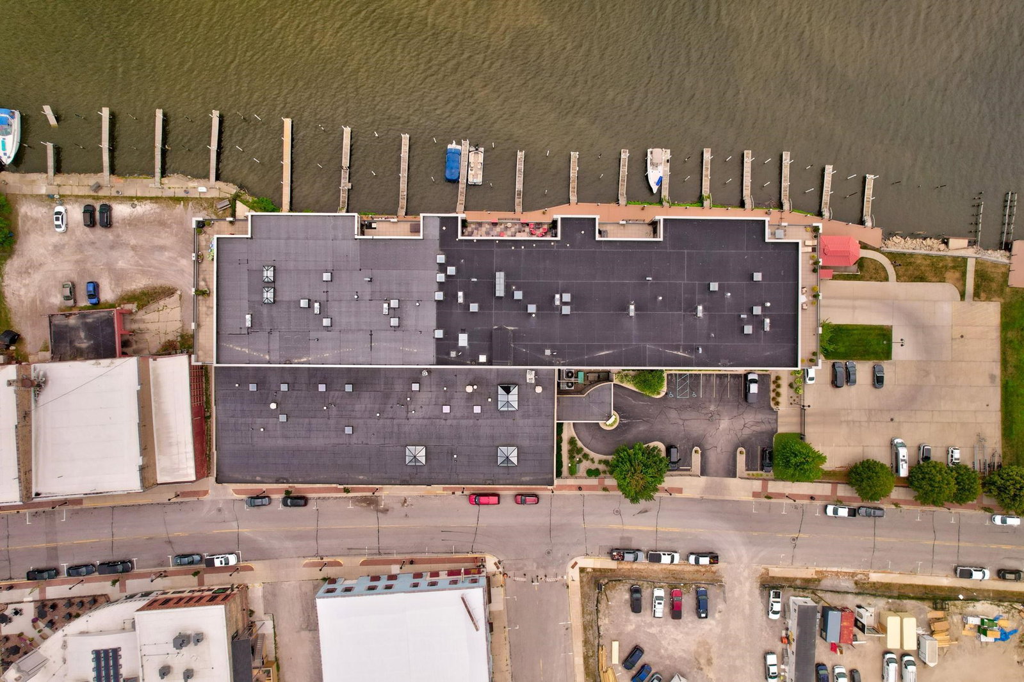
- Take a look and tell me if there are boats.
Yes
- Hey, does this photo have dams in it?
No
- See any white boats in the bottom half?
No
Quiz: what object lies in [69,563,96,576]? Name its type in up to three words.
vehicle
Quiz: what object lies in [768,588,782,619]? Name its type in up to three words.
vehicle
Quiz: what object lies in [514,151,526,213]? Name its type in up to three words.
pier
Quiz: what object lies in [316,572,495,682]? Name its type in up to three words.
building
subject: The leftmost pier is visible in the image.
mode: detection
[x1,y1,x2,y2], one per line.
[43,142,60,185]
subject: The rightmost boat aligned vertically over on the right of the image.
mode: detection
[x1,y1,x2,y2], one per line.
[647,147,664,192]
